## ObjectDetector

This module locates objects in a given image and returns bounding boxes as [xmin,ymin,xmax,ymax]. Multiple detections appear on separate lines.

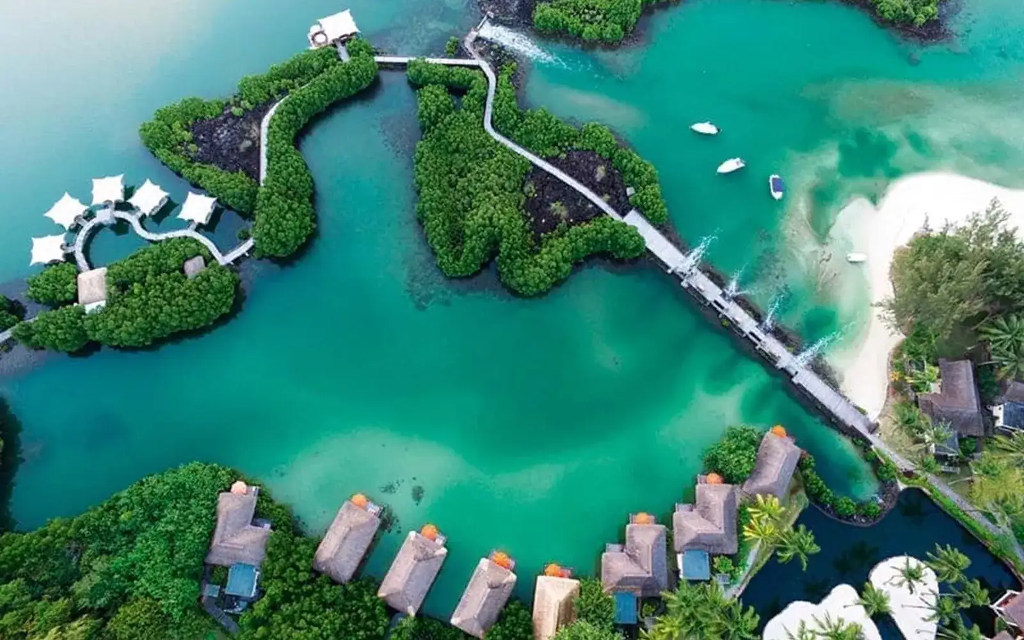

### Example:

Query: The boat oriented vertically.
[769,172,783,200]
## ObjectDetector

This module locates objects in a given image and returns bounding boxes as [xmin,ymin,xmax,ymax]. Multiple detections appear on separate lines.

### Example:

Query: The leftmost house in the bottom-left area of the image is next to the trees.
[204,485,271,598]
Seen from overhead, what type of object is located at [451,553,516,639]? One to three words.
house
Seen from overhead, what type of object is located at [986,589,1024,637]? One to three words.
house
